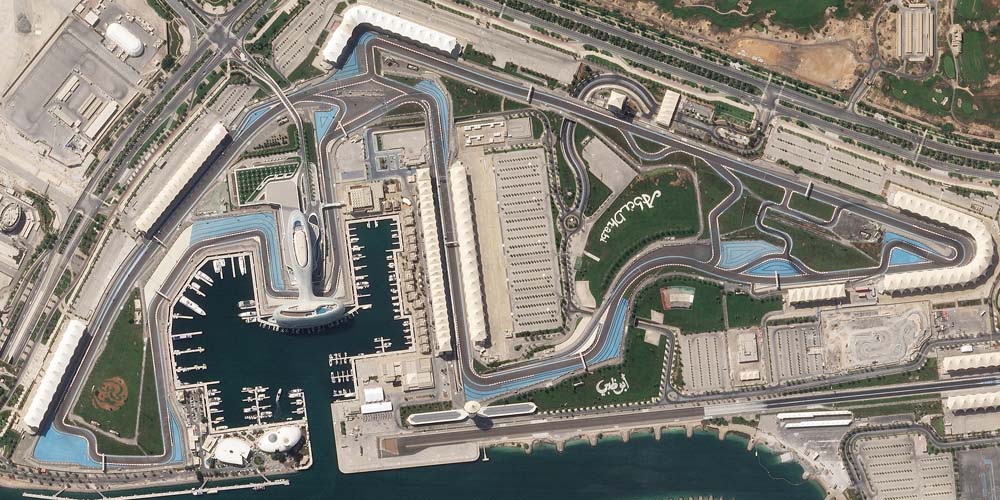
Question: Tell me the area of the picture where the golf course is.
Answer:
top right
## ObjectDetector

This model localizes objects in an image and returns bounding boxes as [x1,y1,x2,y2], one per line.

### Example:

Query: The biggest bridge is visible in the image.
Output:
[272,81,307,158]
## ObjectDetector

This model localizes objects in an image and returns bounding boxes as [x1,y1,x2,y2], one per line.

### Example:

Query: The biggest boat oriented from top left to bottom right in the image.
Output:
[180,296,205,313]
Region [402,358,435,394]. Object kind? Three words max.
building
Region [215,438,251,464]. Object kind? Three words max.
building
